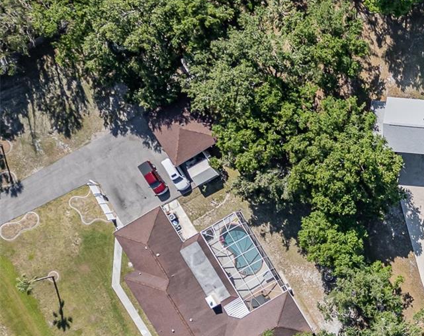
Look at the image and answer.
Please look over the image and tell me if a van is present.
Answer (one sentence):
Yes, a van can be made out from above.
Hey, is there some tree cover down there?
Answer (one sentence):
Yes, there's tree cover in this view.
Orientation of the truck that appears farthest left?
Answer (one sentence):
Seen from above, the truck that appears farthest left lies on a diagonal.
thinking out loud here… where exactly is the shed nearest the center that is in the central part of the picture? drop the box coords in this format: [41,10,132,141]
[188,159,220,186]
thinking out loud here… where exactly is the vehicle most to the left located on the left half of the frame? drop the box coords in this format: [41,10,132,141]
[138,159,170,197]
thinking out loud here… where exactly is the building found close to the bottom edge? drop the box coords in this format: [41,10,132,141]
[114,206,315,336]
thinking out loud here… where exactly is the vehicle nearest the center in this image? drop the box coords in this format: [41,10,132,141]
[159,158,191,192]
